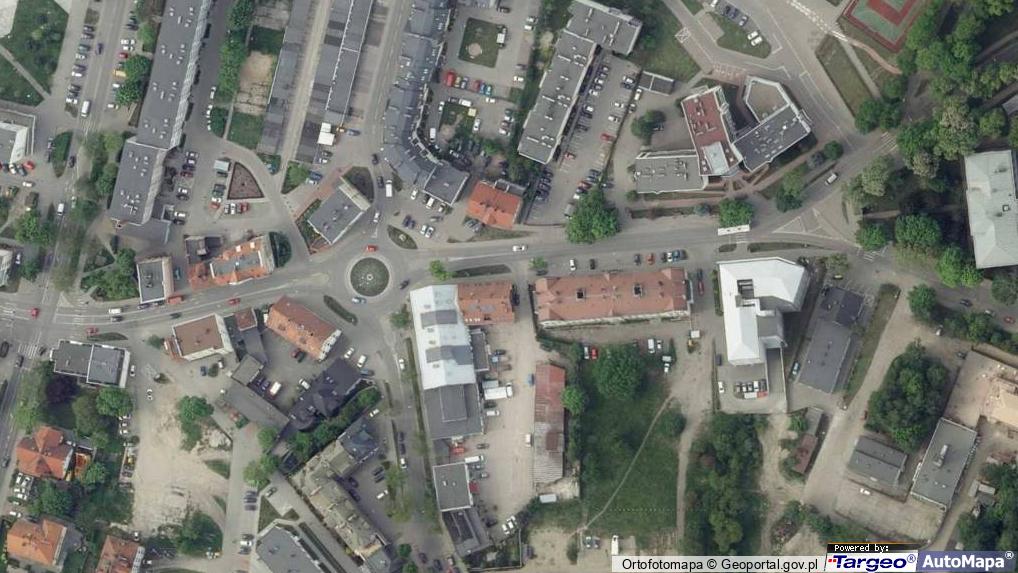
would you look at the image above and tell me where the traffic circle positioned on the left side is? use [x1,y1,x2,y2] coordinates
[346,254,394,300]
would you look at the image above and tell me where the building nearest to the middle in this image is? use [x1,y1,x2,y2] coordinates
[458,281,518,326]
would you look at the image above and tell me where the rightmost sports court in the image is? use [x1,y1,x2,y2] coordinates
[841,0,925,51]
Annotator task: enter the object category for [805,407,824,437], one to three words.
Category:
shed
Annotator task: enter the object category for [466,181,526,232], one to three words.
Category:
house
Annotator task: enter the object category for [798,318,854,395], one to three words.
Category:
building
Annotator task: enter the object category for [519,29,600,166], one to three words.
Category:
building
